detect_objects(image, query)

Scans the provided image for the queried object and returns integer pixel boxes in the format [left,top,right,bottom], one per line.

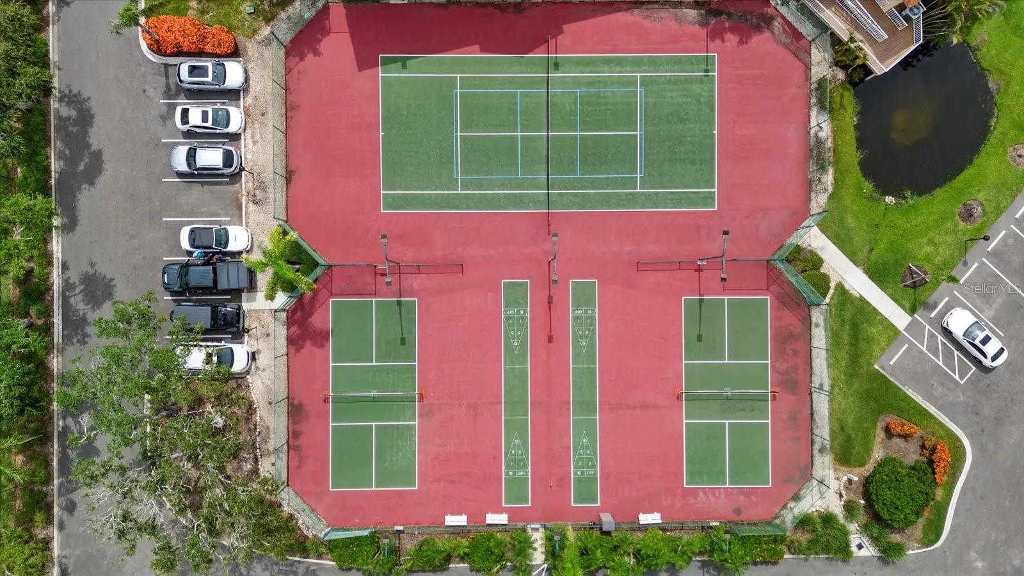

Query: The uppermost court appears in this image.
[379,53,717,212]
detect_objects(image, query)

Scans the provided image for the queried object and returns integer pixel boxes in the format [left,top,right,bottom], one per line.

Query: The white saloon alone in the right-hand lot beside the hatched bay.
[941,309,1008,368]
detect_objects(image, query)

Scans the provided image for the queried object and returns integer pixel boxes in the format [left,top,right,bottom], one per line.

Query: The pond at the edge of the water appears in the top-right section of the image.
[854,28,996,197]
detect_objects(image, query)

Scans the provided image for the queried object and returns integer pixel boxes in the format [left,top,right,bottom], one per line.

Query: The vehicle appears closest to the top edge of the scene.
[176,57,248,91]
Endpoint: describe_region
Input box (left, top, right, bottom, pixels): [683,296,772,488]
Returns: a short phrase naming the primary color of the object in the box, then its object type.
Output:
green sports court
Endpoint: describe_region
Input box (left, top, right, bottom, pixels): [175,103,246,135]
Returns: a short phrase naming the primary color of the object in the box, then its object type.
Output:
white car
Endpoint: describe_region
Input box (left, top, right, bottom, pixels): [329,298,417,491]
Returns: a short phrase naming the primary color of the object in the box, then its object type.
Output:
green sports court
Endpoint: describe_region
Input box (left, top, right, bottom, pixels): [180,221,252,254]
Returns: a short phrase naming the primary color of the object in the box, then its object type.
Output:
white car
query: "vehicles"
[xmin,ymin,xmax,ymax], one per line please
[941,309,1008,368]
[175,103,246,135]
[176,57,248,91]
[178,343,252,376]
[180,221,252,254]
[164,252,255,295]
[169,302,247,334]
[171,142,243,175]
